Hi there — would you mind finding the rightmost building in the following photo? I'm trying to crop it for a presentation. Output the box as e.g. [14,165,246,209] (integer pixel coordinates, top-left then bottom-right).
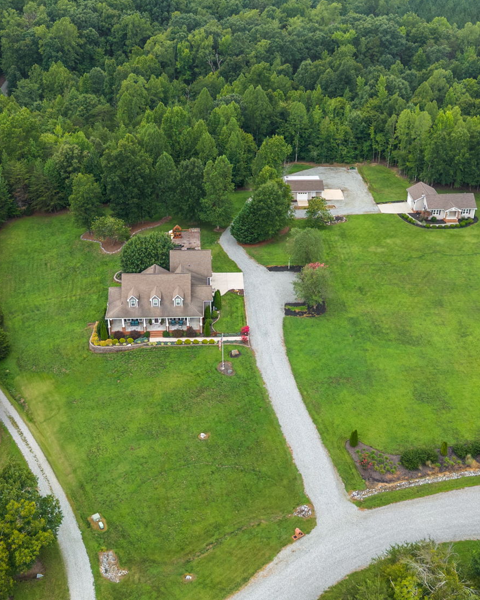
[406,182,477,223]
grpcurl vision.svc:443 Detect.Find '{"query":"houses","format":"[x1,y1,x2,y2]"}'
[406,182,477,223]
[105,249,212,338]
